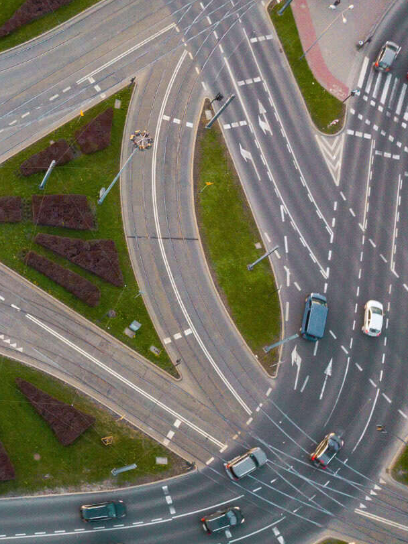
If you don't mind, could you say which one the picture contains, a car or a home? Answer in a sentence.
The one in the frame is a car.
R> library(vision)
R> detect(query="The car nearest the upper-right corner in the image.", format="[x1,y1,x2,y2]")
[374,40,400,73]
